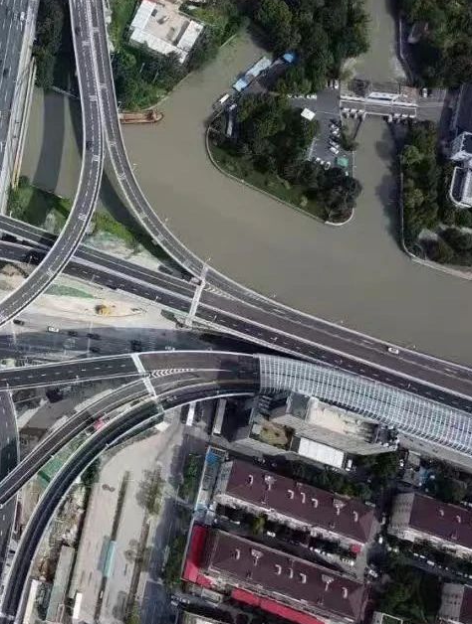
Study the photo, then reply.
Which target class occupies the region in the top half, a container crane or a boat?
boat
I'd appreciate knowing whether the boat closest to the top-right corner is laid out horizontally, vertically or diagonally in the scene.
diagonally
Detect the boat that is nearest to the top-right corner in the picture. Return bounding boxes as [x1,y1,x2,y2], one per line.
[242,51,274,79]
